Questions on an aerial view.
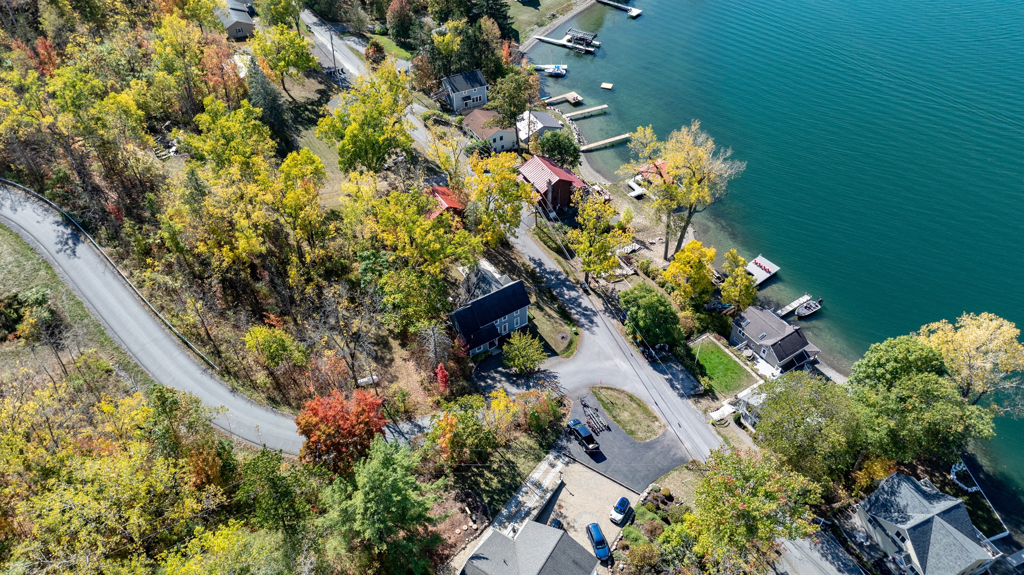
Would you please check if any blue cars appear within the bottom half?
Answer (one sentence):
Yes, a blue car shows up within the bottom half.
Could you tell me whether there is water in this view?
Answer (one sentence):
Yes, the picture does contain water.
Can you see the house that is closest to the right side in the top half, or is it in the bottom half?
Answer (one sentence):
You can find the house that is closest to the right side in the bottom half.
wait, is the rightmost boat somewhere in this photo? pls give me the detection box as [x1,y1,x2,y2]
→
[795,299,825,314]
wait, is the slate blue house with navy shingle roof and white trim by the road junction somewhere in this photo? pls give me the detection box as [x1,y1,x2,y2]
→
[445,268,531,355]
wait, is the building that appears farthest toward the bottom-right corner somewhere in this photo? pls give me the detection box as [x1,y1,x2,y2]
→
[848,471,1012,575]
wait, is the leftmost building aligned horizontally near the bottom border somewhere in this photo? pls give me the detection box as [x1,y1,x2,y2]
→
[458,516,601,575]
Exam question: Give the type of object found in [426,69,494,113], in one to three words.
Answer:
house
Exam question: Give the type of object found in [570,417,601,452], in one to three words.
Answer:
truck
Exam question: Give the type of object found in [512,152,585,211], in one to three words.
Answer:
house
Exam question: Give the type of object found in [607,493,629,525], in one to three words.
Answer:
car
